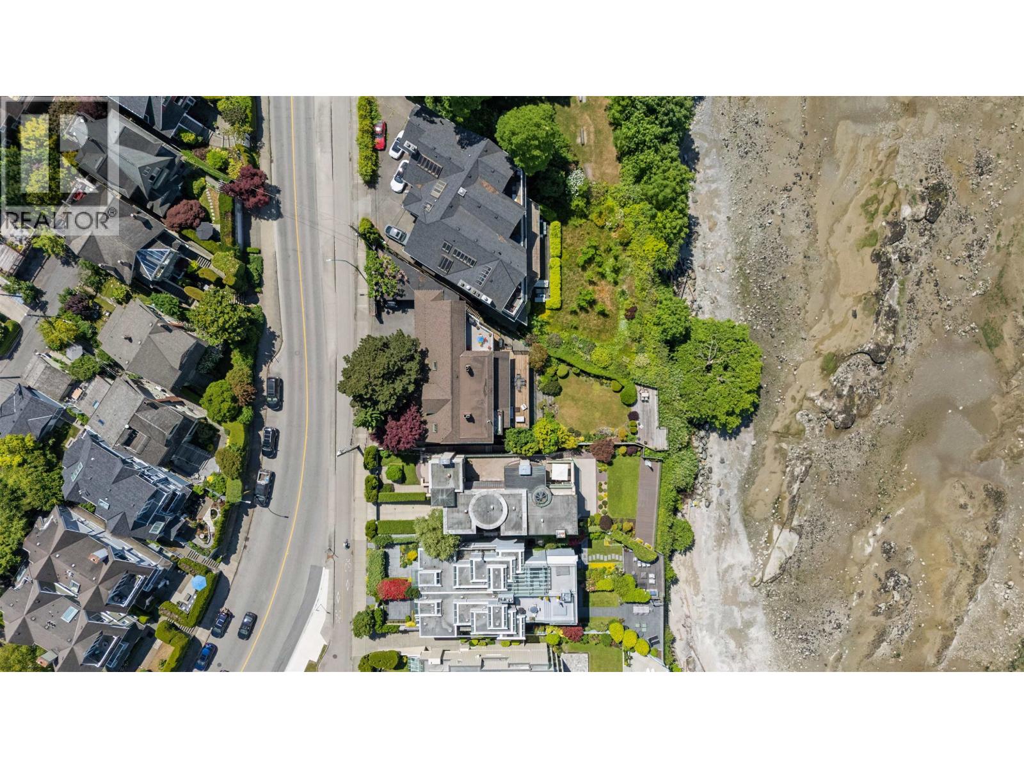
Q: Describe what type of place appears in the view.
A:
residential area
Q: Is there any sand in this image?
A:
Yes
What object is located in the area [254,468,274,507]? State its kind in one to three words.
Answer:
vehicle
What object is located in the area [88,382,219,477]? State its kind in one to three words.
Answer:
house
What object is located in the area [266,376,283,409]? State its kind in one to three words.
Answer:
car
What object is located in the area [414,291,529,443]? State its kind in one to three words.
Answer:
house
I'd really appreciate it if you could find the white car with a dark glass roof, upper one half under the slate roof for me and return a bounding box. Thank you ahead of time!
[387,130,404,162]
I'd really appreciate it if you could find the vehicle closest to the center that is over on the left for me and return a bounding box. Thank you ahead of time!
[377,296,408,311]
